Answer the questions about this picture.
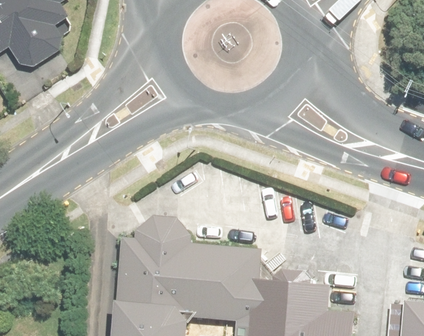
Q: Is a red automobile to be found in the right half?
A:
Yes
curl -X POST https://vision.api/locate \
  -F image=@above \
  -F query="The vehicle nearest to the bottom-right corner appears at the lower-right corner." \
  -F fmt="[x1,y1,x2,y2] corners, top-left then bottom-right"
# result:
[404,281,424,294]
